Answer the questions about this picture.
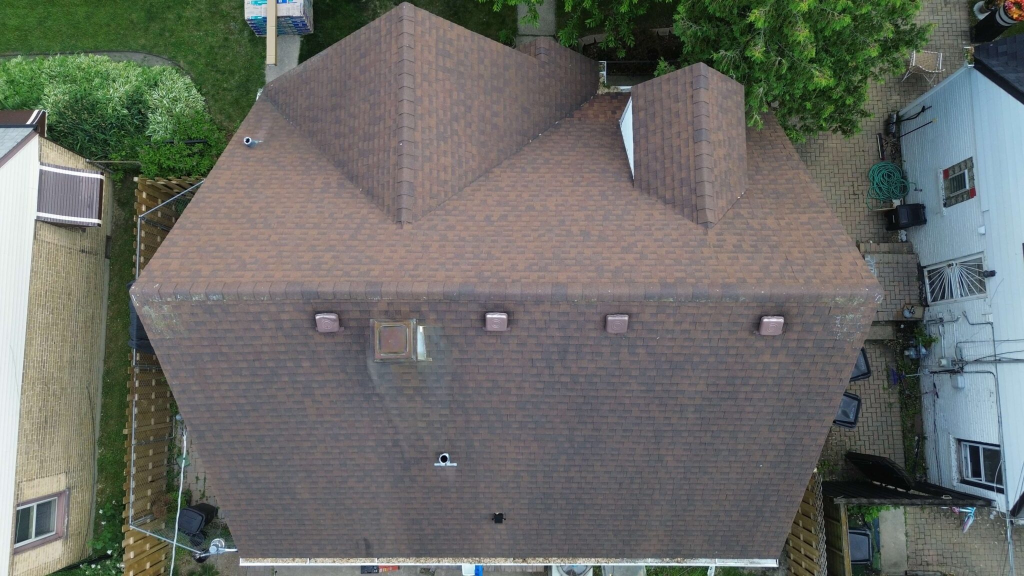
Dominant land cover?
buildings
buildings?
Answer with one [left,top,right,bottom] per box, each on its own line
[900,29,1024,530]
[129,0,884,567]
[0,108,121,576]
